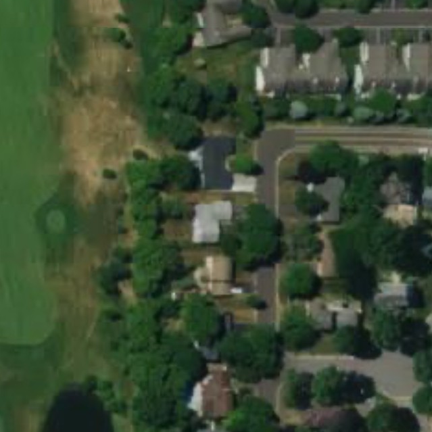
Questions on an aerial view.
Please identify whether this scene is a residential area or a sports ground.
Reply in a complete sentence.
This looks like a residential area.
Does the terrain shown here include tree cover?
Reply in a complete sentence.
Yes, tree cover shows up in the scene.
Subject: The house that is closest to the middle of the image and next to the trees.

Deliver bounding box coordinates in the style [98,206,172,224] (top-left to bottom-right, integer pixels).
[193,203,232,243]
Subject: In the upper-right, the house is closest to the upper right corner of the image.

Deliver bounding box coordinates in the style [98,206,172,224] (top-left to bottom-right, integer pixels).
[355,38,432,99]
